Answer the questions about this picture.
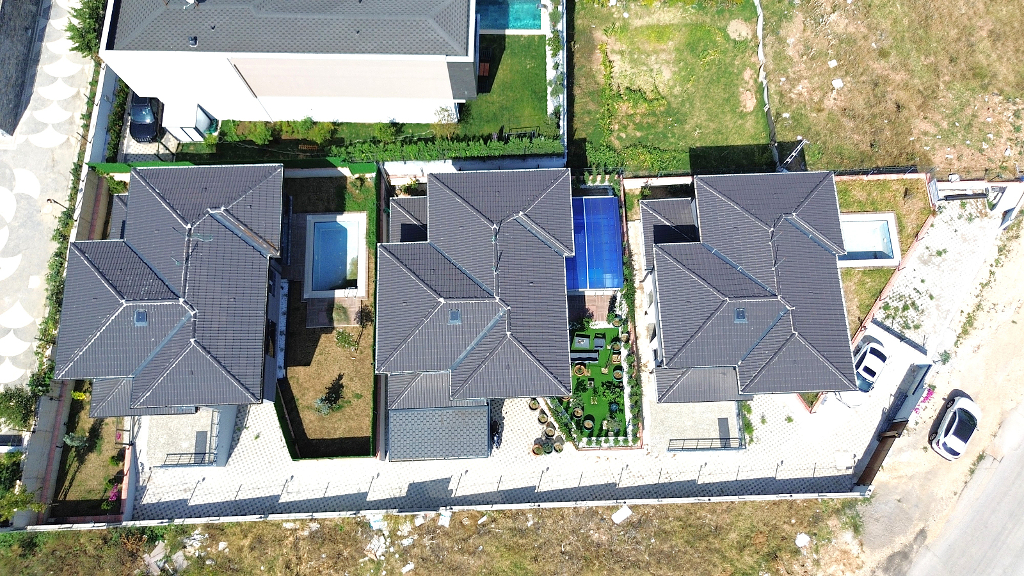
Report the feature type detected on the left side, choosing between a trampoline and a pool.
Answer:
pool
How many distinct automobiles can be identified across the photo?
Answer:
three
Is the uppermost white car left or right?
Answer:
right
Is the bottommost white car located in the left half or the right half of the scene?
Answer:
right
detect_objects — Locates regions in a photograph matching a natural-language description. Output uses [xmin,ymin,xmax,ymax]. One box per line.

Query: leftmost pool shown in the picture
[306,213,366,297]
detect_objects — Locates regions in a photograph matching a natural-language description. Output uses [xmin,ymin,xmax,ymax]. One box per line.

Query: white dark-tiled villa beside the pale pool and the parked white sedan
[638,169,858,409]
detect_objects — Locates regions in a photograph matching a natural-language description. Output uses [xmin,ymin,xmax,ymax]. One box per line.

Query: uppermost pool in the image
[485,0,548,34]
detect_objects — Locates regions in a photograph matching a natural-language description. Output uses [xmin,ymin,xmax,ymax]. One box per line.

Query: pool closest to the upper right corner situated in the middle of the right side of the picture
[838,214,903,265]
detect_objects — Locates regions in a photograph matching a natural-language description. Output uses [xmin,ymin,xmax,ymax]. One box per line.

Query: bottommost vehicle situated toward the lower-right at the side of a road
[930,395,982,465]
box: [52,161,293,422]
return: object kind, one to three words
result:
house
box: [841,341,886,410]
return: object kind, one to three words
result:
car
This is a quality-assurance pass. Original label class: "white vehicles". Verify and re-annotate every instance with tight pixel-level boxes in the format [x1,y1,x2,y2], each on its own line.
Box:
[930,395,982,465]
[841,341,886,410]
